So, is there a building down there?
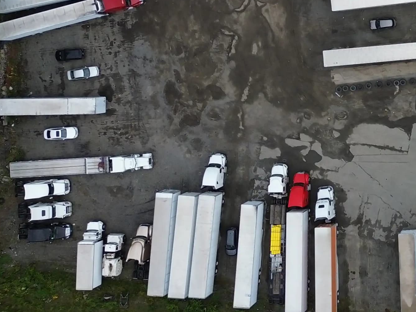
No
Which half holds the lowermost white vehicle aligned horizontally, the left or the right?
left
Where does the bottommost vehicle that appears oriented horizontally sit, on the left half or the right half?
left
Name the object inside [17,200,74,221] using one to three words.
vehicle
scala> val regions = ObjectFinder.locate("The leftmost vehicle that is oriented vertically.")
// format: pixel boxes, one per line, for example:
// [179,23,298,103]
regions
[77,220,106,290]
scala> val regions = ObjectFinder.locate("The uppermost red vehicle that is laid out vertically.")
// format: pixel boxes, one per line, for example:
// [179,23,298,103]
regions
[289,171,313,219]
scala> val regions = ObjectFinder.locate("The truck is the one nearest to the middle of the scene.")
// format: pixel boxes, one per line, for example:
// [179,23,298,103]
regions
[205,153,230,200]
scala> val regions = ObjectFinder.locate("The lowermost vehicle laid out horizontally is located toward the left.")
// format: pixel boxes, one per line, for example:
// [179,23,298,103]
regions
[15,224,74,243]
